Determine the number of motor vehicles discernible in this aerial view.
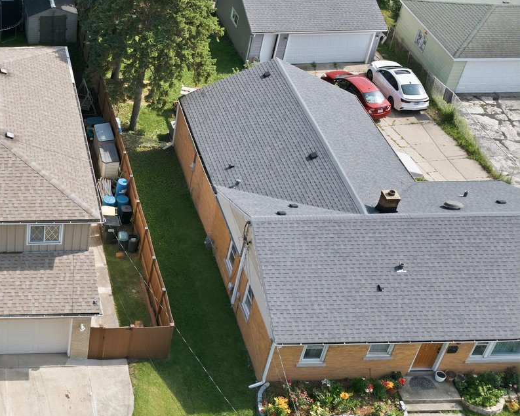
two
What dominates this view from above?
buildings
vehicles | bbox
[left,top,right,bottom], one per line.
[365,57,429,110]
[329,67,402,122]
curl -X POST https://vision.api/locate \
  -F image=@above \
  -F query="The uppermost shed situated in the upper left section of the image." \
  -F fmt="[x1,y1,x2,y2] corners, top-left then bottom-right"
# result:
[27,0,81,43]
